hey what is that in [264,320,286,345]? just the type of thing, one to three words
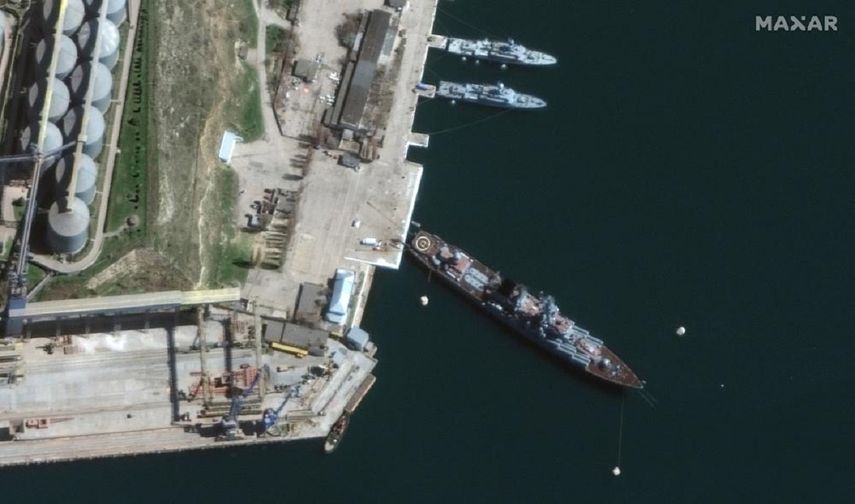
shed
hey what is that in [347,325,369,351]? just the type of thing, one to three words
house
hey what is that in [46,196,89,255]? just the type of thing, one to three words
silo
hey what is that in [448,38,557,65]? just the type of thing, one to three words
ship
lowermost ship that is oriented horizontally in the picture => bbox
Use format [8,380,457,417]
[438,81,547,108]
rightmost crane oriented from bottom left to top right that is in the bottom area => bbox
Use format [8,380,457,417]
[259,388,298,439]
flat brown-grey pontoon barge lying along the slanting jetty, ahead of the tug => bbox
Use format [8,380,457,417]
[346,373,377,413]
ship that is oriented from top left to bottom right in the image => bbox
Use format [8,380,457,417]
[403,226,656,408]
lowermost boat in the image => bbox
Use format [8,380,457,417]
[329,410,352,455]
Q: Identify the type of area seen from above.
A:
industrial area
